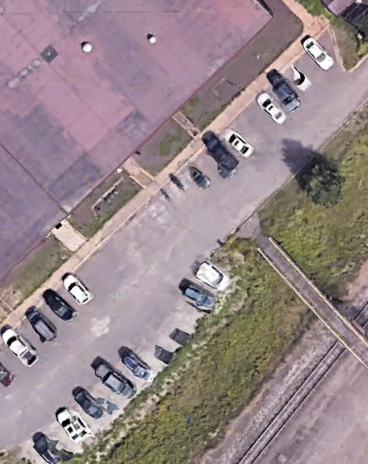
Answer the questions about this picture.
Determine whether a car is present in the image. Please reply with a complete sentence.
Yes, you can see a car in this photo.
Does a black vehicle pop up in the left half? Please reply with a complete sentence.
Yes, a black vehicle can be seen in the left half.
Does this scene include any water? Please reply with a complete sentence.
No, there is no water in the image.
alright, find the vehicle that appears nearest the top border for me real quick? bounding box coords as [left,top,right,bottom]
[299,35,335,72]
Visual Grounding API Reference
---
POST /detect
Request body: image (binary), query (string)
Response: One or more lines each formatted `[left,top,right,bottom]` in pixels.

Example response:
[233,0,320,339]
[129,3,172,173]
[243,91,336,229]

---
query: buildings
[324,0,368,46]
[0,0,279,289]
